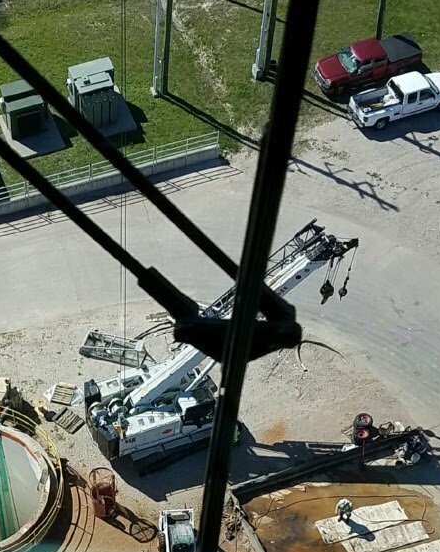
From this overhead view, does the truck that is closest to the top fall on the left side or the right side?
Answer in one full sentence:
The truck that is closest to the top sits on the right side.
